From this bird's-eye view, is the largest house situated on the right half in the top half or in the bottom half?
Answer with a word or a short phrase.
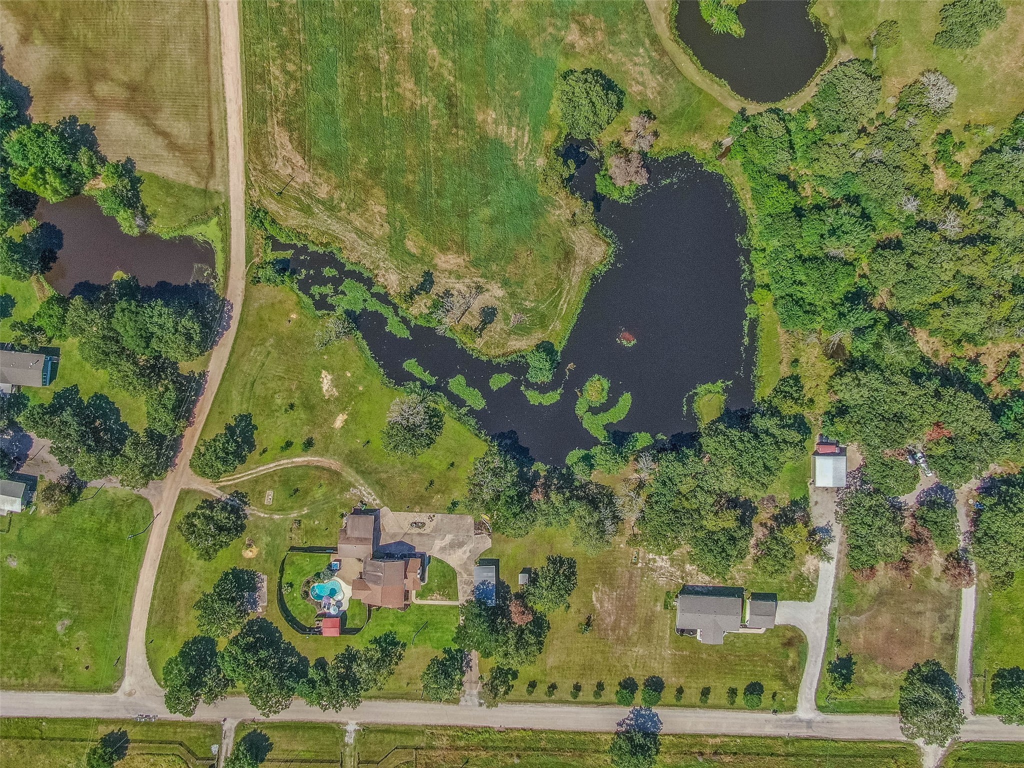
bottom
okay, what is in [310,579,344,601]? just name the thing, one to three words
swimming pool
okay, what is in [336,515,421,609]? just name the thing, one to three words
house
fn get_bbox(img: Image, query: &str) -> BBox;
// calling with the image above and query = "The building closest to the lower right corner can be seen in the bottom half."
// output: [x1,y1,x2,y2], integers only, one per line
[747,600,776,628]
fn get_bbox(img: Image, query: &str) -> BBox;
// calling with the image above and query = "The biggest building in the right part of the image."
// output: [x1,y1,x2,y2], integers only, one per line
[677,593,743,646]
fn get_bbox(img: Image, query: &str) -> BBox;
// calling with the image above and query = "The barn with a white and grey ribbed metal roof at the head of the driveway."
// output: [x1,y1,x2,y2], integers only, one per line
[808,456,846,487]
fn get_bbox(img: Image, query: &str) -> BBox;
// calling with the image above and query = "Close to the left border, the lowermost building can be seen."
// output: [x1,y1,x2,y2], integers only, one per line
[0,482,31,514]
